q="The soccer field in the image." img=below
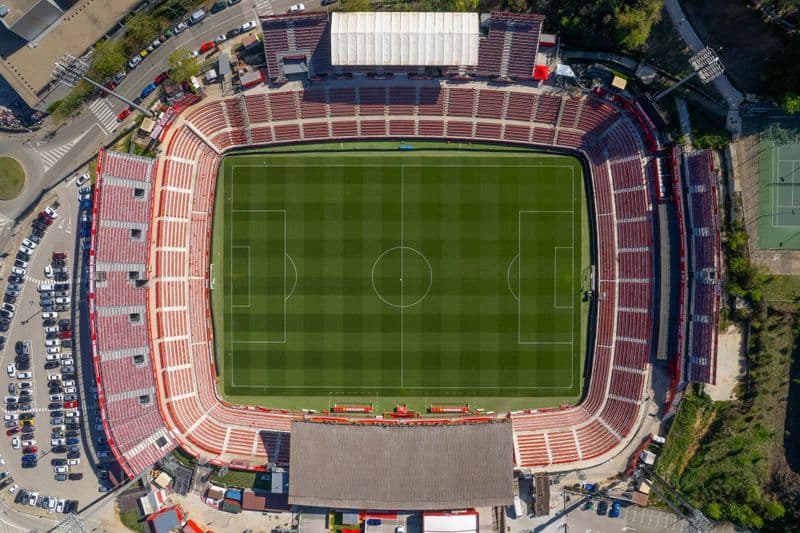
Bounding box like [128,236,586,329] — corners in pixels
[212,138,595,417]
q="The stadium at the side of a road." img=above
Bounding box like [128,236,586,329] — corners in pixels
[91,7,722,510]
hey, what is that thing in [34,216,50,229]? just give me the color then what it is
black vehicle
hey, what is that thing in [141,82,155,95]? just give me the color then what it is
blue vehicle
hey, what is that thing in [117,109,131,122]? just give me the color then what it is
red vehicle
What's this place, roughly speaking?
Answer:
sports ground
